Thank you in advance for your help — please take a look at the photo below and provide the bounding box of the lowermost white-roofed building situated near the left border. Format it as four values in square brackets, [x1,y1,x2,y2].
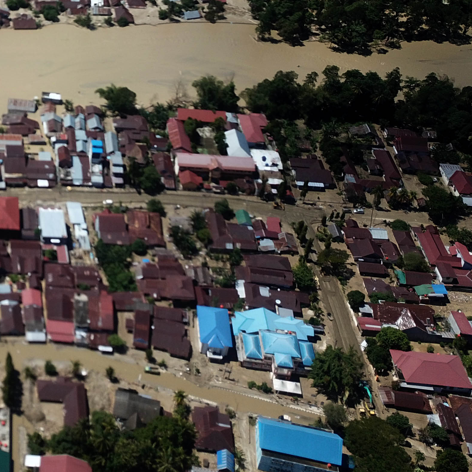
[22,453,42,472]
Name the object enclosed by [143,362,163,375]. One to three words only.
vehicle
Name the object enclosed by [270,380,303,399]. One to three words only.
tent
